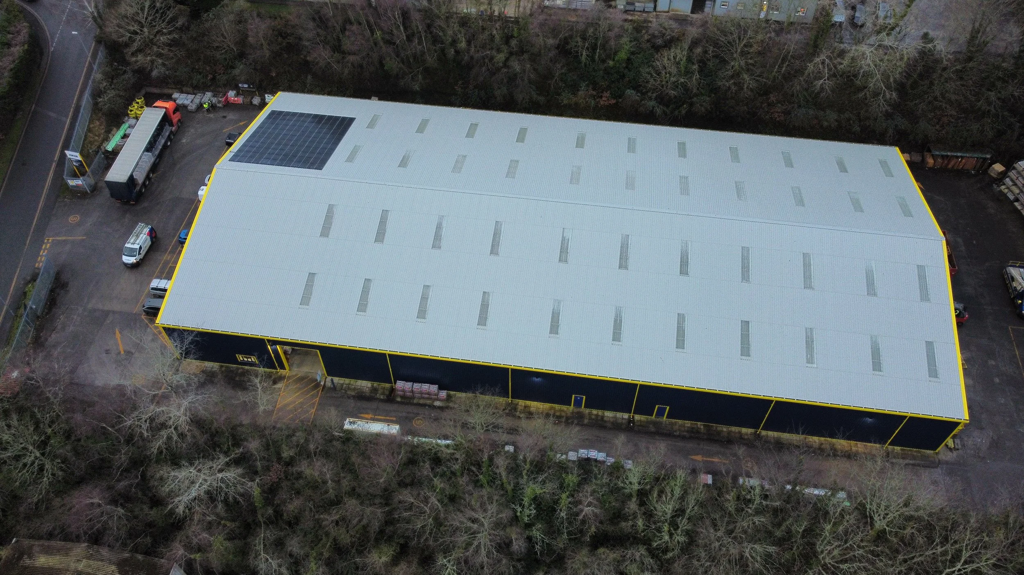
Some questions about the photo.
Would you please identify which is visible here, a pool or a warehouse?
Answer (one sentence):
I can see a warehouse in this picture.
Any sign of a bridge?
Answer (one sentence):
No, this view has no bridge in it.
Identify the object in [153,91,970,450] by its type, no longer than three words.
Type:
warehouse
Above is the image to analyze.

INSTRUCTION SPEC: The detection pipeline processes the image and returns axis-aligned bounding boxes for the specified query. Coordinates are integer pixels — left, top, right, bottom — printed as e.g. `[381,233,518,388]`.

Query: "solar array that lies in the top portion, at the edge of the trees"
[229,109,355,169]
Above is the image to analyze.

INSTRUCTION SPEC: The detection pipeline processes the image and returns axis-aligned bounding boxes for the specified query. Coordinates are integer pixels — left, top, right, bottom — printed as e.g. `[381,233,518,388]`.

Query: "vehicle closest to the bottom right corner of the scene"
[953,301,967,322]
